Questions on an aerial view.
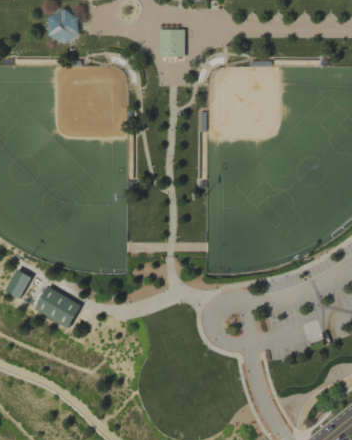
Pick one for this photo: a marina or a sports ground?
sports ground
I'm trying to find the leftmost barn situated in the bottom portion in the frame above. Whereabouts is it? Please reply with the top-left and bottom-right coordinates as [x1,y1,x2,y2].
[6,270,30,298]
